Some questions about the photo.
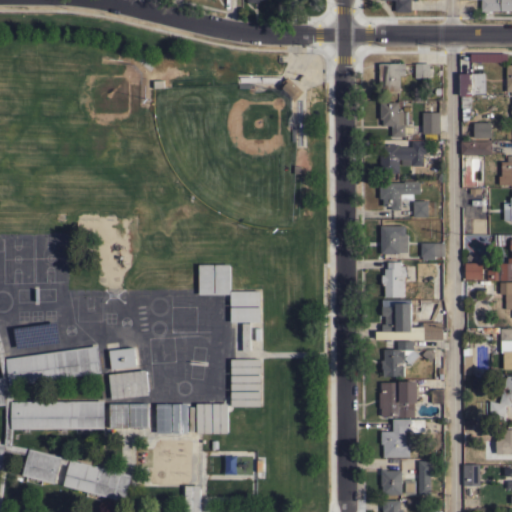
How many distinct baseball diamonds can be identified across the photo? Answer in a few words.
2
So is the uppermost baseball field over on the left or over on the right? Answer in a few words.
left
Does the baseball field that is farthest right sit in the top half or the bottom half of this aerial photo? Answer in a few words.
top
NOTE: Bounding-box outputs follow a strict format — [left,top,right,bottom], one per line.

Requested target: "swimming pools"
[420,405,439,416]
[478,346,489,370]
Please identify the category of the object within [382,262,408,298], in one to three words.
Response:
house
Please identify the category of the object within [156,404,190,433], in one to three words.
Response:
building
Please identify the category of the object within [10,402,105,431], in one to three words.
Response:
building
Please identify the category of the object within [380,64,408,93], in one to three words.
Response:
house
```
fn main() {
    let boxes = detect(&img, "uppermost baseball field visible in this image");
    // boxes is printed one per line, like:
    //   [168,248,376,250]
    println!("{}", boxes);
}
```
[86,58,140,124]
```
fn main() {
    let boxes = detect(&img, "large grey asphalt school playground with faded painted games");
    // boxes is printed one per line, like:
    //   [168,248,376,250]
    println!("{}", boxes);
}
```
[0,236,235,404]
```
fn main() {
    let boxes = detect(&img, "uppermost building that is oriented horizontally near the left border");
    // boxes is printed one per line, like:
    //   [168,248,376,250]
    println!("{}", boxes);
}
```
[6,346,102,382]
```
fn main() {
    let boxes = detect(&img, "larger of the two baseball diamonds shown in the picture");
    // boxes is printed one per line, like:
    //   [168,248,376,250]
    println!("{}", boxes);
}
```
[155,91,294,230]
